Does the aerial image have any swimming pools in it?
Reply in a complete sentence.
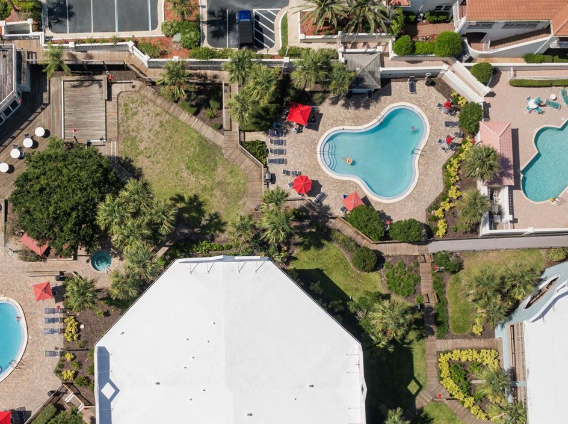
Yes, the picture does show a swimming pool.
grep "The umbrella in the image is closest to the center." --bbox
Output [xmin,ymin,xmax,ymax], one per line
[293,176,311,193]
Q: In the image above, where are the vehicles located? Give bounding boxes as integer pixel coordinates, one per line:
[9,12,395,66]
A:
[235,11,254,51]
